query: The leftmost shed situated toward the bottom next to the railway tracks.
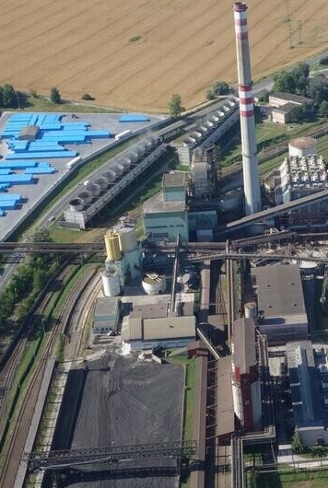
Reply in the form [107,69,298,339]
[93,296,124,331]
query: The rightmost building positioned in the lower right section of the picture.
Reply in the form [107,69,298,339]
[286,340,328,444]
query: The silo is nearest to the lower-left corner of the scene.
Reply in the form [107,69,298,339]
[101,271,122,295]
